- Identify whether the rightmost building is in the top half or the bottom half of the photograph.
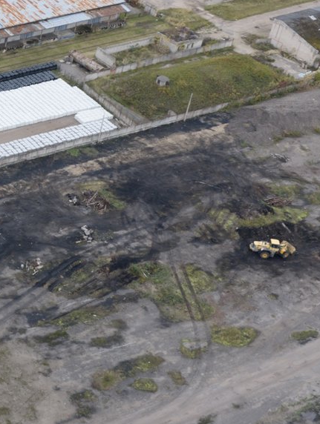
top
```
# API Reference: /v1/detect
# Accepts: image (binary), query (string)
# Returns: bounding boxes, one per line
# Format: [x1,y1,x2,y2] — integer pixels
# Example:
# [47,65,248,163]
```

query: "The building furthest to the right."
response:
[260,9,320,70]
